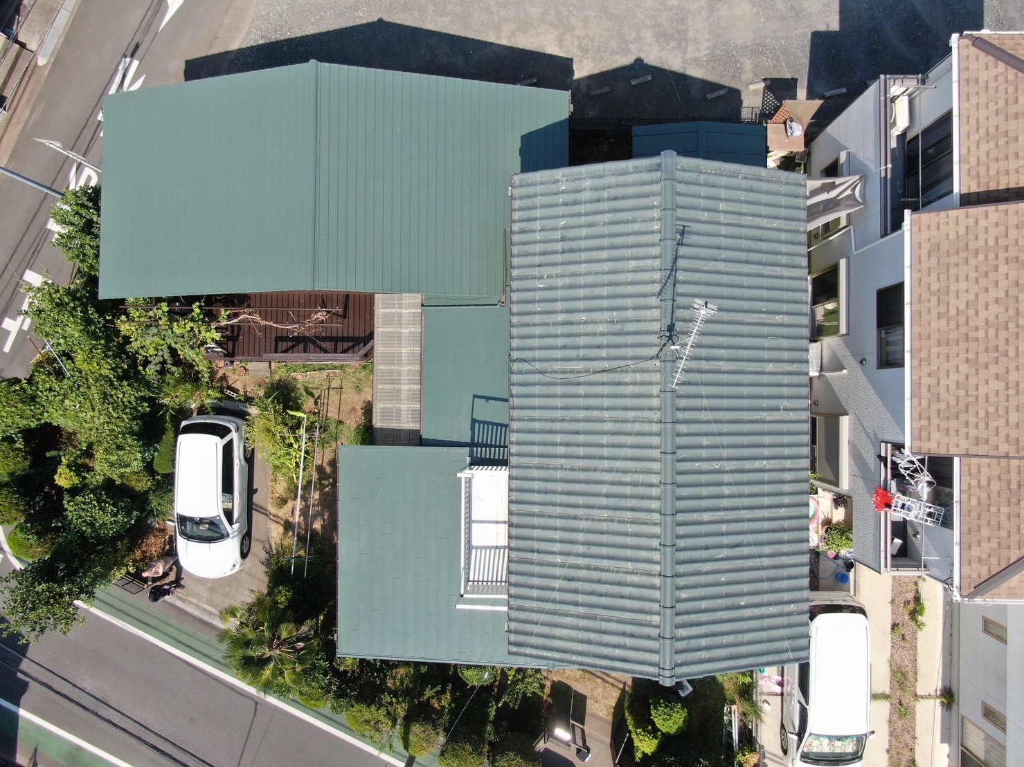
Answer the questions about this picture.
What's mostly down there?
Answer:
buildings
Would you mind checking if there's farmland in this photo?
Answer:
No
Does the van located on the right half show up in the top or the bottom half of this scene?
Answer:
bottom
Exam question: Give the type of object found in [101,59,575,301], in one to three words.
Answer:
building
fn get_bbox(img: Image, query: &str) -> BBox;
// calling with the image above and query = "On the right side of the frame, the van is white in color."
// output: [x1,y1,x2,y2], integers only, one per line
[776,589,877,767]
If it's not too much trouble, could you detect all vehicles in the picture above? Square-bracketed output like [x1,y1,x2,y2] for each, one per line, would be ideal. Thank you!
[170,413,262,582]
[776,589,877,767]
